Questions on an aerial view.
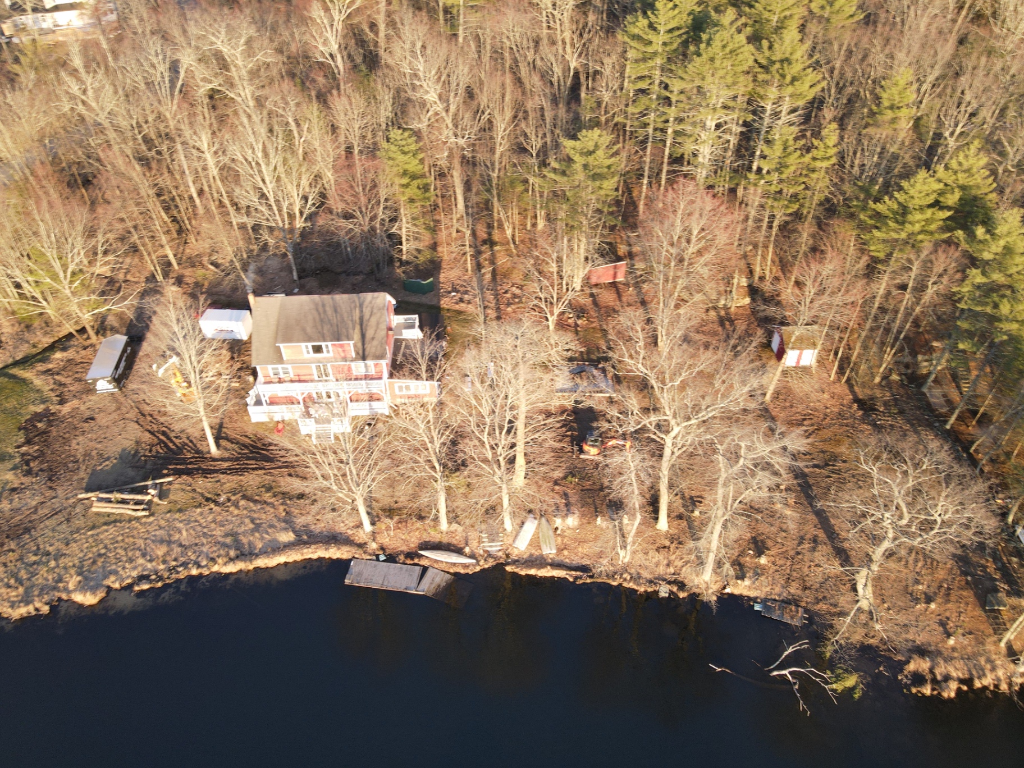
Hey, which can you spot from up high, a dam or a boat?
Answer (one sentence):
The one in the frame is a boat.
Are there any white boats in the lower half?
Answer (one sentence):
Yes, a white boat is visible in the lower half.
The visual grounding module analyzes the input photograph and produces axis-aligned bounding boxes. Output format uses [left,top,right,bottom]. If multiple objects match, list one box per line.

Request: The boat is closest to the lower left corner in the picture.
[418,550,476,565]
